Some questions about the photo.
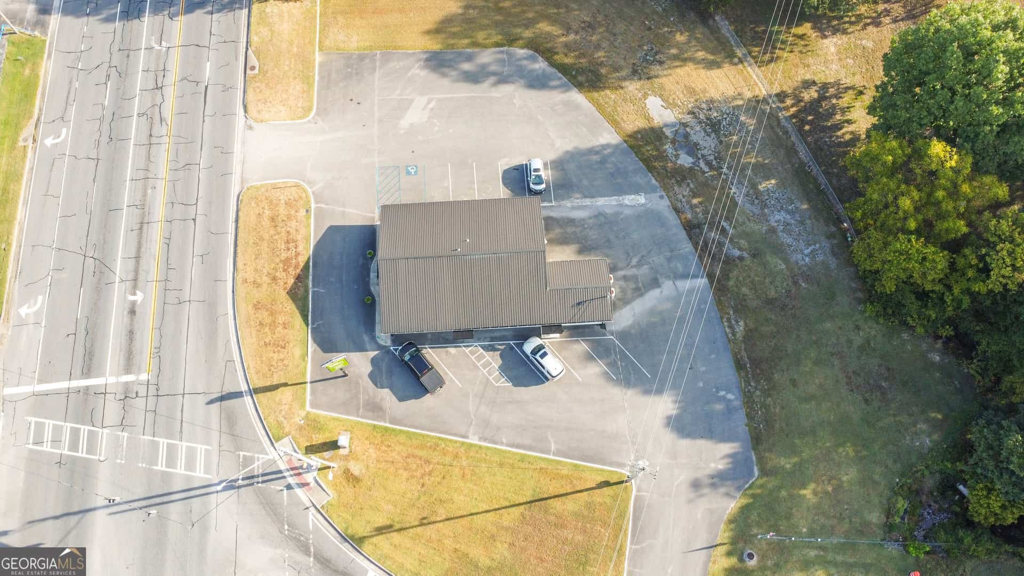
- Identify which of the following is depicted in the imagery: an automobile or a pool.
automobile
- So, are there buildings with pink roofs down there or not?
No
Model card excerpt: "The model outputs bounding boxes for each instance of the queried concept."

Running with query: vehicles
[527,158,547,196]
[522,335,565,381]
[398,342,445,395]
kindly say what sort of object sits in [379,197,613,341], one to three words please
building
